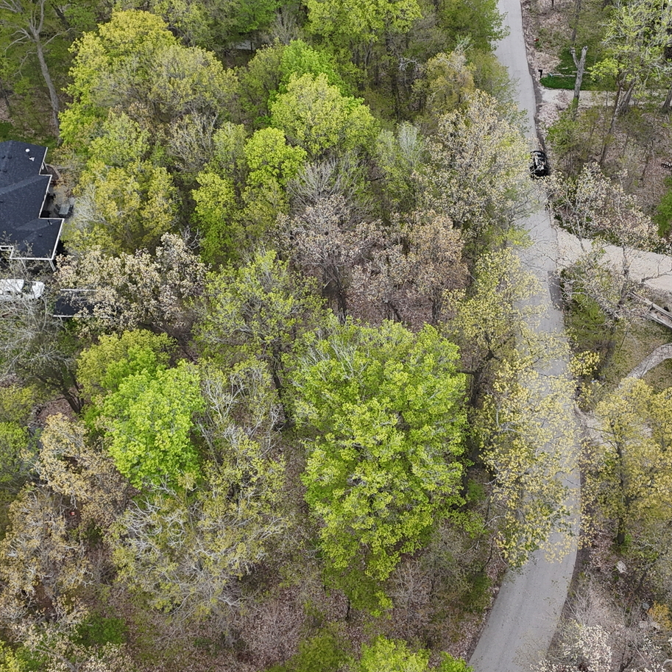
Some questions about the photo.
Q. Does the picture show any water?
No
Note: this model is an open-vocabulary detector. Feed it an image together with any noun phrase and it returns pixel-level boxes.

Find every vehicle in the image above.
[0,275,44,298]
[532,144,551,174]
